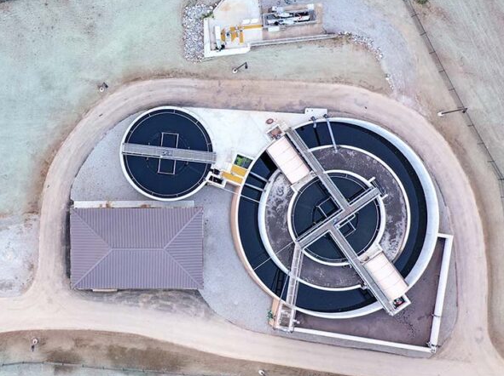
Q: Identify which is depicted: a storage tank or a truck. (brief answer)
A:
storage tank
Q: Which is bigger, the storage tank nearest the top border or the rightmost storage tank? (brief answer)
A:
the rightmost storage tank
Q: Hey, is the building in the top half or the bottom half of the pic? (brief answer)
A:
bottom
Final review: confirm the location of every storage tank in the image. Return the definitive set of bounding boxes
[223,113,438,331]
[119,106,218,200]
